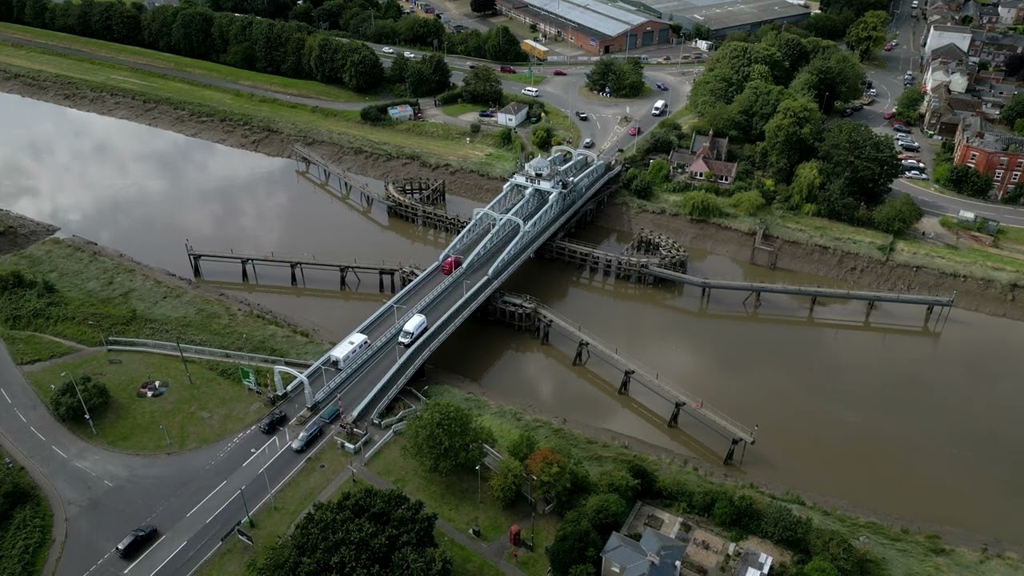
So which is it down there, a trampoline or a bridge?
bridge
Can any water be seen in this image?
Yes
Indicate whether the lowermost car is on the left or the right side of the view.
left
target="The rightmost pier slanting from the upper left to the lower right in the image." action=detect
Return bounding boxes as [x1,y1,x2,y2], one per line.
[533,303,758,449]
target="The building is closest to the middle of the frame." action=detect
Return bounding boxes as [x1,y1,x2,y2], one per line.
[496,103,533,128]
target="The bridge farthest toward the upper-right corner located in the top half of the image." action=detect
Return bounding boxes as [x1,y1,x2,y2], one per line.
[439,146,622,291]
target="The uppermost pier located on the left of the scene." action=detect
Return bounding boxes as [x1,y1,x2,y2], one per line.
[289,143,399,212]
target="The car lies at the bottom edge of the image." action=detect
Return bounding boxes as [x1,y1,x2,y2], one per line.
[109,520,154,557]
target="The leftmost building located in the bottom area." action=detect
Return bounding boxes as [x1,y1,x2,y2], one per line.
[601,528,689,576]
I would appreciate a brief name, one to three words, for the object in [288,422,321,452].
car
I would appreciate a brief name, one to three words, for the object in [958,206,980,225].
shed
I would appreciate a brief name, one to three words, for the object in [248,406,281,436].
car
